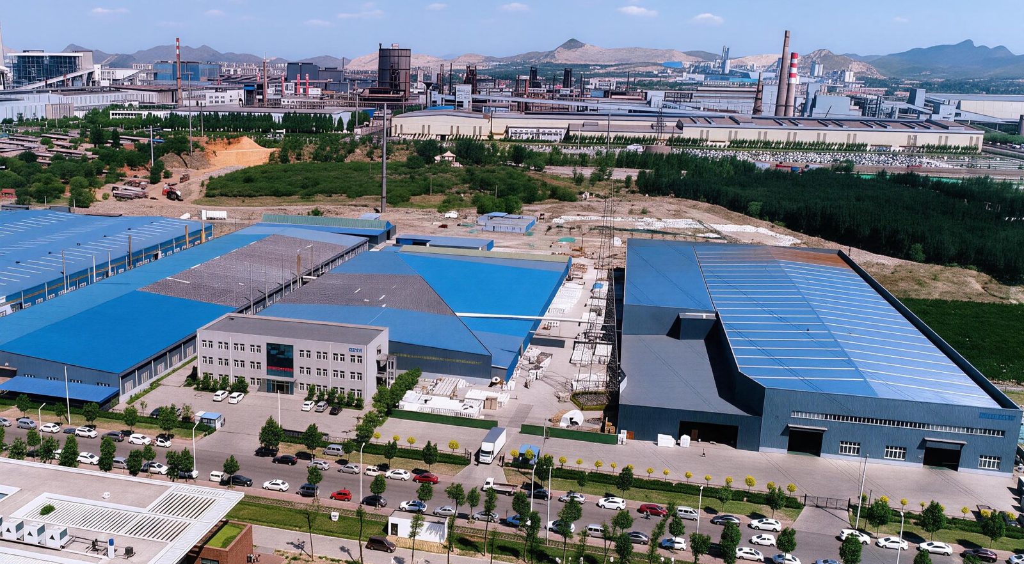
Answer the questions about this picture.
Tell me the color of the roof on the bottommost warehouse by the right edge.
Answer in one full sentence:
The roof of the bottommost warehouse by the right edge is blue.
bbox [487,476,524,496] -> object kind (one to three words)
vehicle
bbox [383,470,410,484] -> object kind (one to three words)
car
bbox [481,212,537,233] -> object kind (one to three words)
shed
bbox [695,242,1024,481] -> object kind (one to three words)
warehouse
